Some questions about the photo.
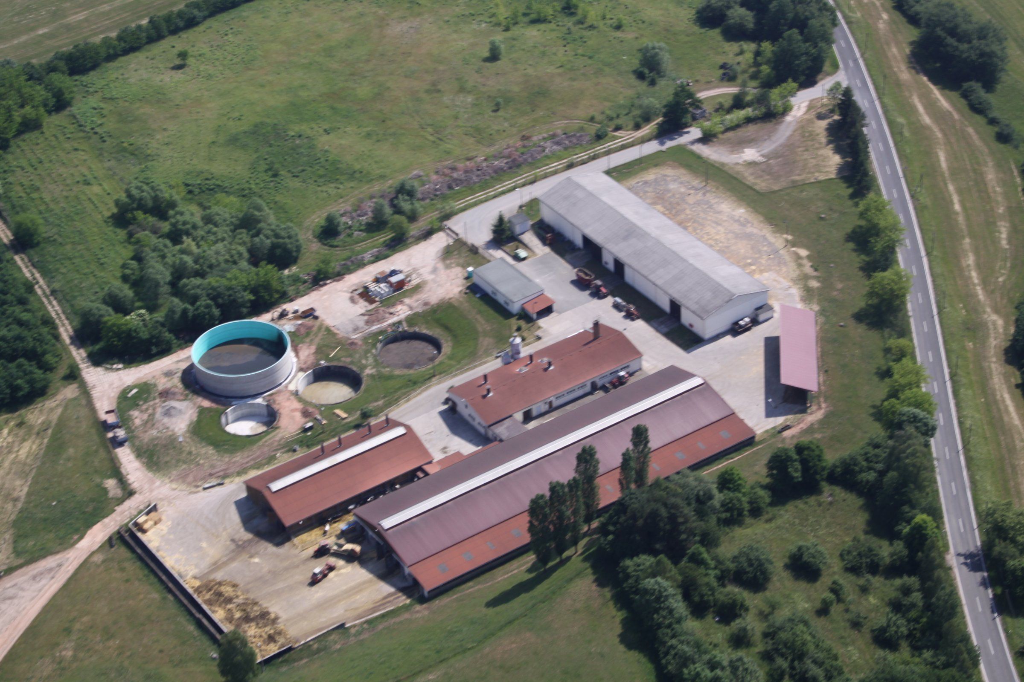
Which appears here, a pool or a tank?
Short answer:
tank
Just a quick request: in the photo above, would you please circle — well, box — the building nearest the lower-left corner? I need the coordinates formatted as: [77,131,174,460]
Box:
[245,414,435,538]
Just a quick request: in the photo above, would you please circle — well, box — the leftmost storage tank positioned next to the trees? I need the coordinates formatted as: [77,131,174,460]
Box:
[191,319,300,401]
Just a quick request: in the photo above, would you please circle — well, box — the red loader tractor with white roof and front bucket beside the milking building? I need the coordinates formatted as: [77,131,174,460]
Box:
[605,370,630,390]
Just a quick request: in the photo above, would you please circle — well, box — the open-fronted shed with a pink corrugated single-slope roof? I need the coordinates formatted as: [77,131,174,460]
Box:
[780,304,818,405]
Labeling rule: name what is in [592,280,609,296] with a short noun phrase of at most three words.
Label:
work vehicle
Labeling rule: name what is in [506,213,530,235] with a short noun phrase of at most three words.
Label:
shed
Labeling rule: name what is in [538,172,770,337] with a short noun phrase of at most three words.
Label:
building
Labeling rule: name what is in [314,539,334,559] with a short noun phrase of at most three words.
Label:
work vehicle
